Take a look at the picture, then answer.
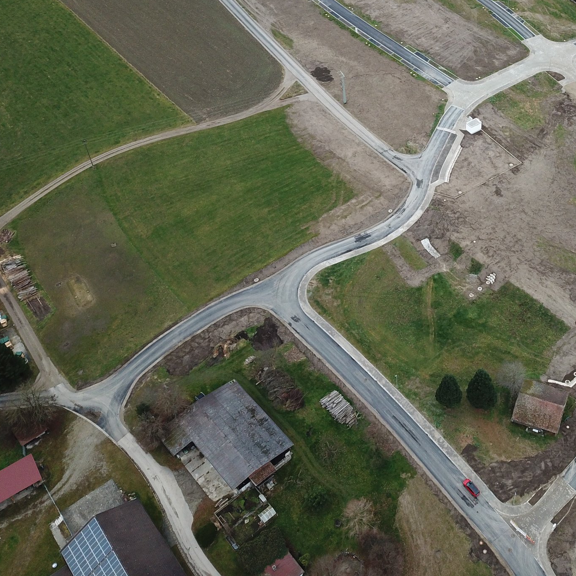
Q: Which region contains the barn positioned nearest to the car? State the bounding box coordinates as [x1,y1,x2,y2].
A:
[512,381,568,438]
